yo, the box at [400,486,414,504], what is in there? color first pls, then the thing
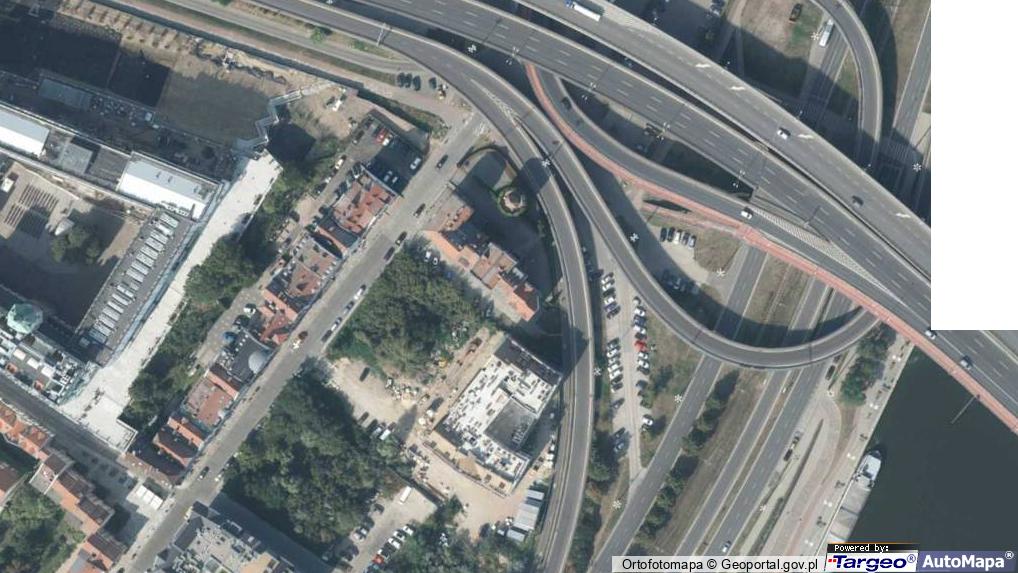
white vehicle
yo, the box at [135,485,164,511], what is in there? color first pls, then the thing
white tent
